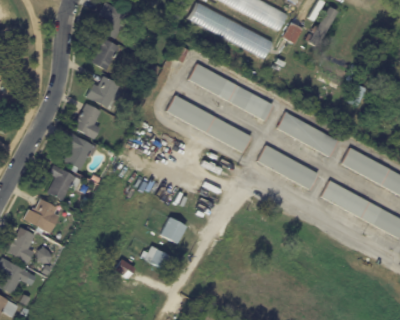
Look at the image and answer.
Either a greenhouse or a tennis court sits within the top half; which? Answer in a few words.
greenhouse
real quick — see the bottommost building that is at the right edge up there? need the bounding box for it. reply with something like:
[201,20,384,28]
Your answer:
[322,180,400,240]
